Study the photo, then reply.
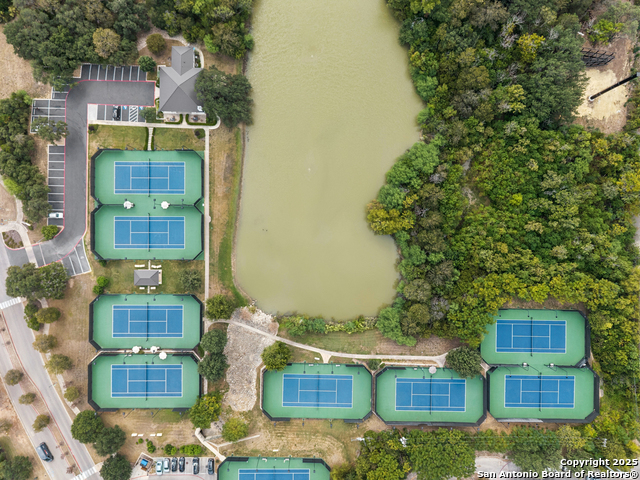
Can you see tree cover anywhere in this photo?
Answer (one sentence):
Yes, some tree cover is visible.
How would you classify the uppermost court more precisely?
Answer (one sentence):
It turns out the uppermost court is a tennis court.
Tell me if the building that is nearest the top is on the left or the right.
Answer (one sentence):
The building that is nearest the top sits on the left side.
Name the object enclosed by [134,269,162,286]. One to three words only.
building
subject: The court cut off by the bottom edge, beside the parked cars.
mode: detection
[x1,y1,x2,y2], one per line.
[219,459,330,480]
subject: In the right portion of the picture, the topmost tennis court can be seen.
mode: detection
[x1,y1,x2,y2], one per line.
[483,311,585,366]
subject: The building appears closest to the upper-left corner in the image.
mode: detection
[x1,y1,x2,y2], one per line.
[160,46,206,116]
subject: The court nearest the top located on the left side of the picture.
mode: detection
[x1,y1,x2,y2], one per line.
[95,150,204,205]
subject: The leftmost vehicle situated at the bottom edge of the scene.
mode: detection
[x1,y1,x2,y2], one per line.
[36,441,51,459]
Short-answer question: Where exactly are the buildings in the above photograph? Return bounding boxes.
[160,46,206,116]
[134,269,162,286]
